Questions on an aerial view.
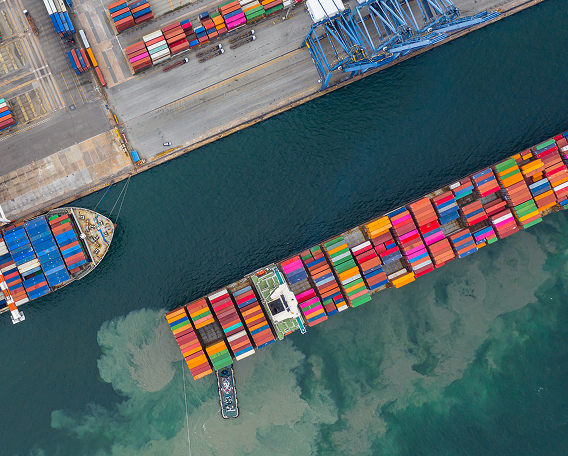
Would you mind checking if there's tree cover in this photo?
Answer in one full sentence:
No, tree cover can't be seen anywhere here.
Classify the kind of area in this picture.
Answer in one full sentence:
The area seen from above is a port.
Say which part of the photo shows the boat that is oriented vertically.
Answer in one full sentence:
You can find the boat that is oriented vertically in the bottom area of the picture.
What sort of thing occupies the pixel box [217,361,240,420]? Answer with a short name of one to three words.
boat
